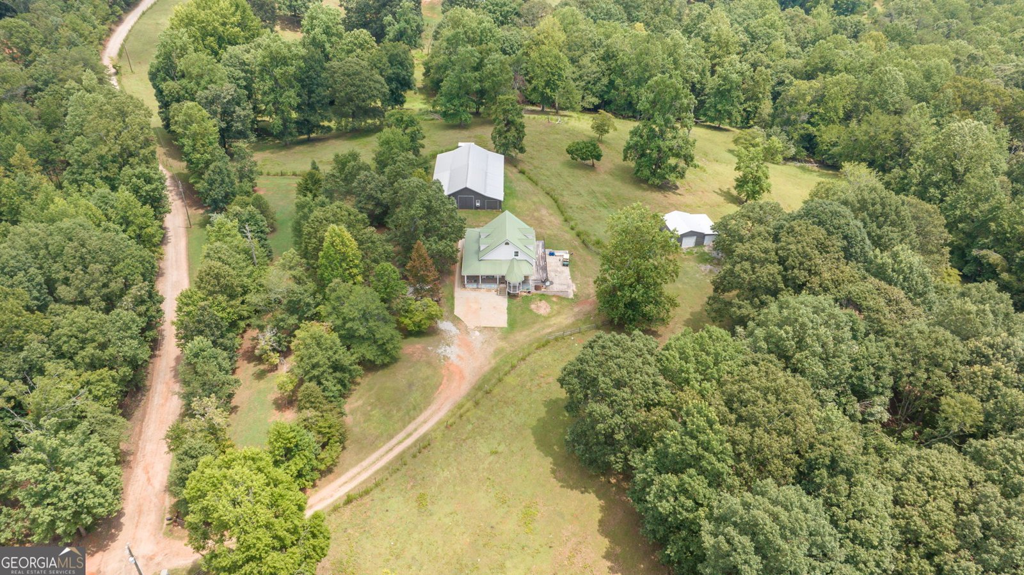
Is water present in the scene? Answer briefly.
No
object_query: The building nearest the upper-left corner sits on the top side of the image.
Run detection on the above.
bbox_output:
[431,141,504,210]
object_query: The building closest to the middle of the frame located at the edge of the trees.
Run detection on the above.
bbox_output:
[460,209,535,291]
